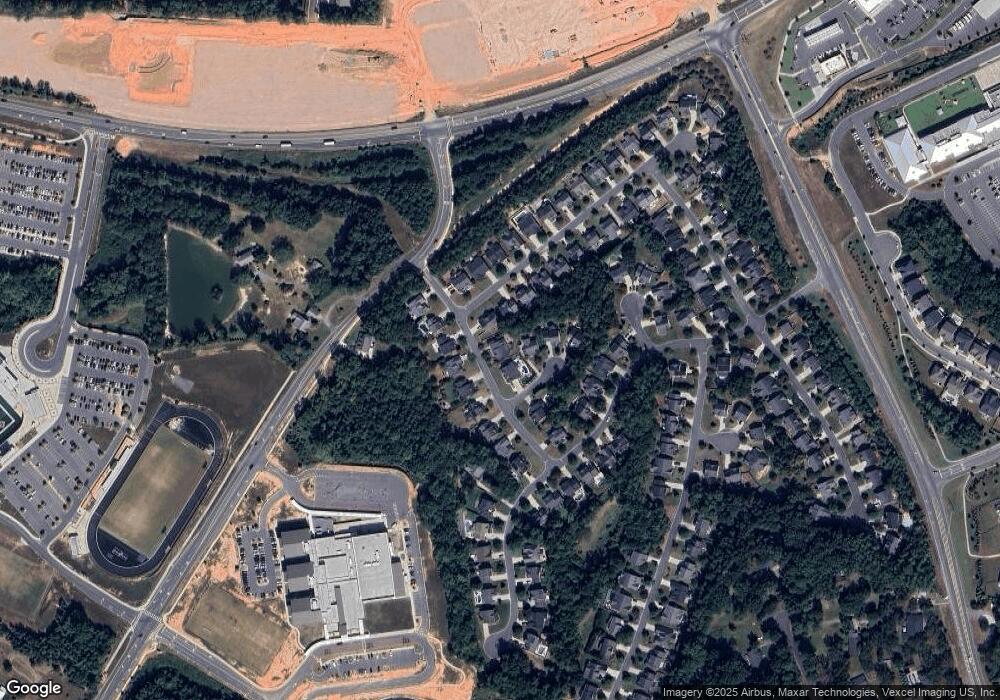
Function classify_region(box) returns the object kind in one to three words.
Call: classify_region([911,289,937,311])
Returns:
house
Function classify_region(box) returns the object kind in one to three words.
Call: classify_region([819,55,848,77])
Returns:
building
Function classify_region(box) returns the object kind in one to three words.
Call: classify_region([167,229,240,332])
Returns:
pond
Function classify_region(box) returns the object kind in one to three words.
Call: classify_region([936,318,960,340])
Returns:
house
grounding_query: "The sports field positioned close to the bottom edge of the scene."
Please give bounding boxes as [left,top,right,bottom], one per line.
[188,586,290,677]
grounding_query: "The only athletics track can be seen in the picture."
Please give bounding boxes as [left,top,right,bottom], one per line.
[92,403,221,570]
